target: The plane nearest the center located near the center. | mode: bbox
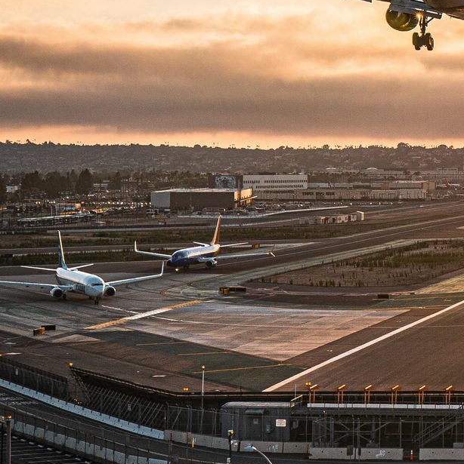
[142,216,274,269]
